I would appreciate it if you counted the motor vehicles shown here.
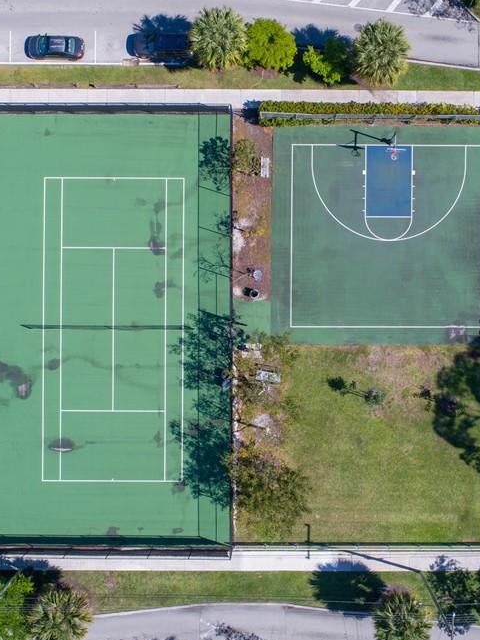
2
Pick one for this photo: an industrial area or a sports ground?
sports ground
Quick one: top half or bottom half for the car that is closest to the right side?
top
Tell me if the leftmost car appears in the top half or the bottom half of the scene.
top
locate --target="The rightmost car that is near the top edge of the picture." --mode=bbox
[128,32,193,63]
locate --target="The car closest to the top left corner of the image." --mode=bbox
[27,33,86,63]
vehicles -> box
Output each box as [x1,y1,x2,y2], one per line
[27,33,86,63]
[128,32,193,63]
